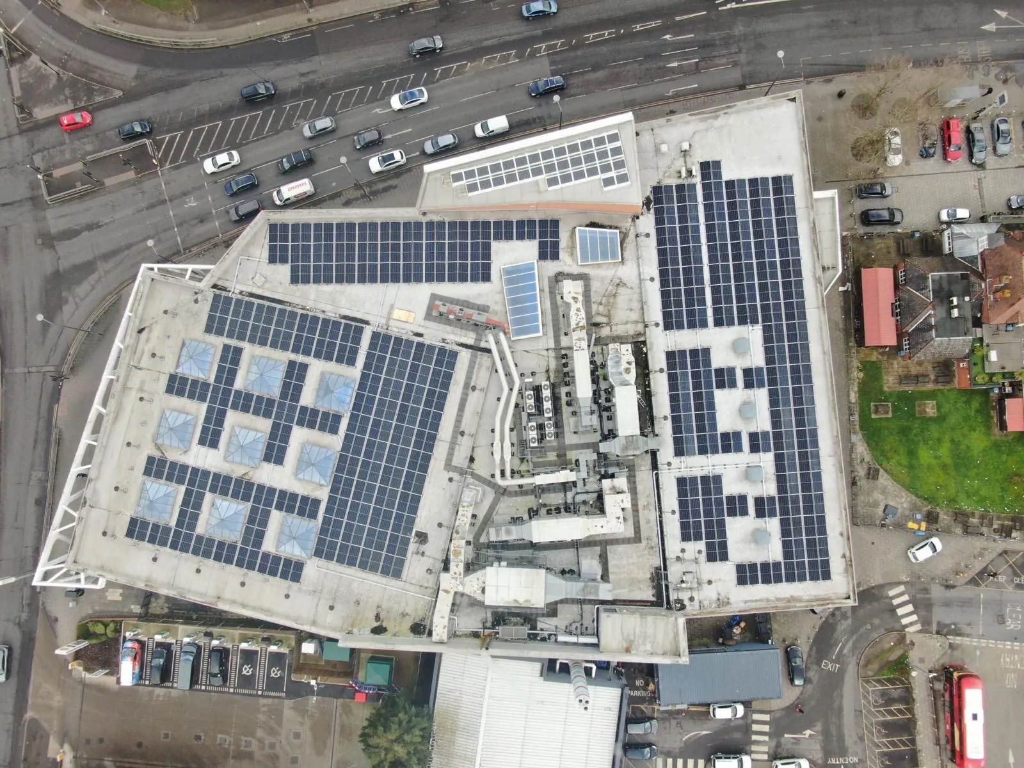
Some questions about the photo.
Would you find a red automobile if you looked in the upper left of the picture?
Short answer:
Yes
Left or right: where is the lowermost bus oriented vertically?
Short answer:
right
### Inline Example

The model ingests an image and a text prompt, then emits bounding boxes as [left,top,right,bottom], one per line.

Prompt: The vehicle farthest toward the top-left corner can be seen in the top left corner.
[58,110,96,132]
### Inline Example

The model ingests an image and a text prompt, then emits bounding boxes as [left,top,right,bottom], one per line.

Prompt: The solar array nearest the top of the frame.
[451,132,632,195]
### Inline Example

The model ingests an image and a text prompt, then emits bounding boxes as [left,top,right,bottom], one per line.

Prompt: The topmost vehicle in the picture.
[520,0,560,21]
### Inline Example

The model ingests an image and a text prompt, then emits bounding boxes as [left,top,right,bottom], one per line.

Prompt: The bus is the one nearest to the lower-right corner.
[945,669,995,768]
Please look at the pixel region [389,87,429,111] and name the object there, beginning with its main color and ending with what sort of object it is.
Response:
white car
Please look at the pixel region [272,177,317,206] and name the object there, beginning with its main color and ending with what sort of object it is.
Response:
white van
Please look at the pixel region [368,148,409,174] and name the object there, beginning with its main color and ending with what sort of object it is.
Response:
white car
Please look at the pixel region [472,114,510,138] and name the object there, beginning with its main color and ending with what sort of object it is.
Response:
white vehicle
